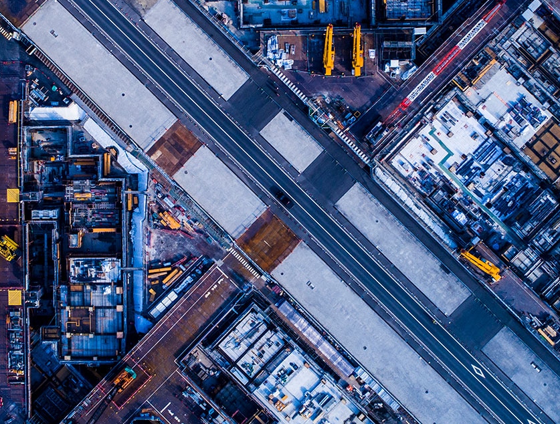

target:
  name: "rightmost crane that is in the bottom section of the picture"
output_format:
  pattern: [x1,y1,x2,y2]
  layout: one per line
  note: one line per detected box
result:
[461,255,501,283]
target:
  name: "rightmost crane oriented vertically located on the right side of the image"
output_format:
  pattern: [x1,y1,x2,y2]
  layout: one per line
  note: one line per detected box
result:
[348,23,367,76]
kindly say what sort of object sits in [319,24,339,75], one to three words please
crane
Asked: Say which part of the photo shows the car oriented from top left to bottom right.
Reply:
center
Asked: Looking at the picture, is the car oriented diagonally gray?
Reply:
No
